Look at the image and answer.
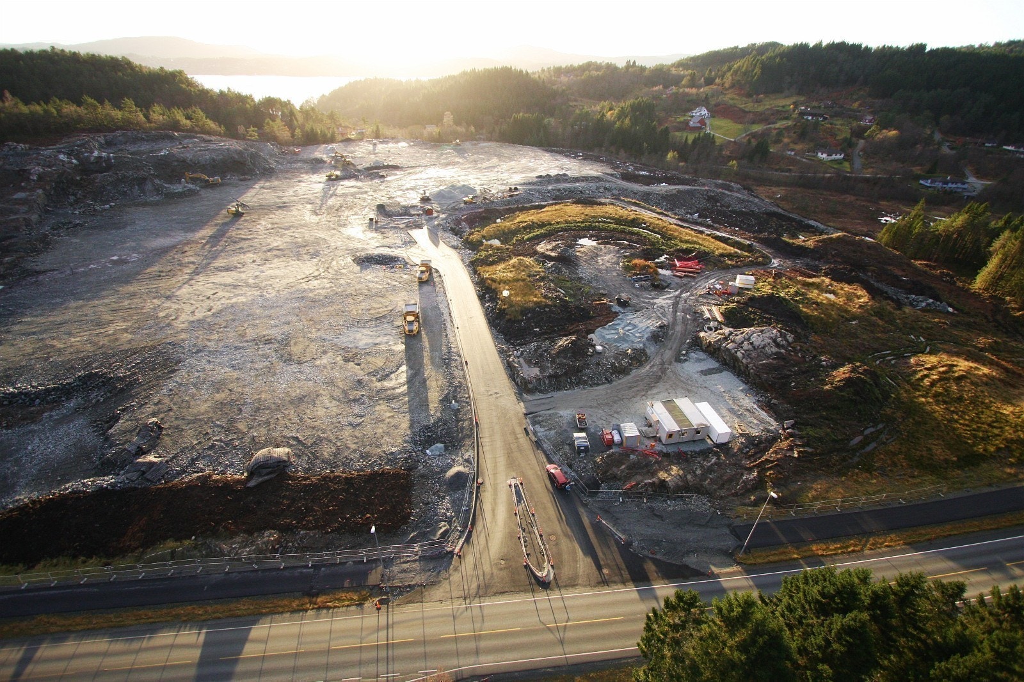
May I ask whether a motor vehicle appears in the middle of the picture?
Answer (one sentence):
Yes, you'll find a motor vehicle in the middle of the picture.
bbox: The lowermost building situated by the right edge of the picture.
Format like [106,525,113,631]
[920,176,980,192]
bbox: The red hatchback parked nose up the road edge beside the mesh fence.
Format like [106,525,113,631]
[546,469,573,497]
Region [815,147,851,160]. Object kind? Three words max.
house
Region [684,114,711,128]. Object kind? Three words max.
barn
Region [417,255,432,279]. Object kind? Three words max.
vehicle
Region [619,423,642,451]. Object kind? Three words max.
shed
